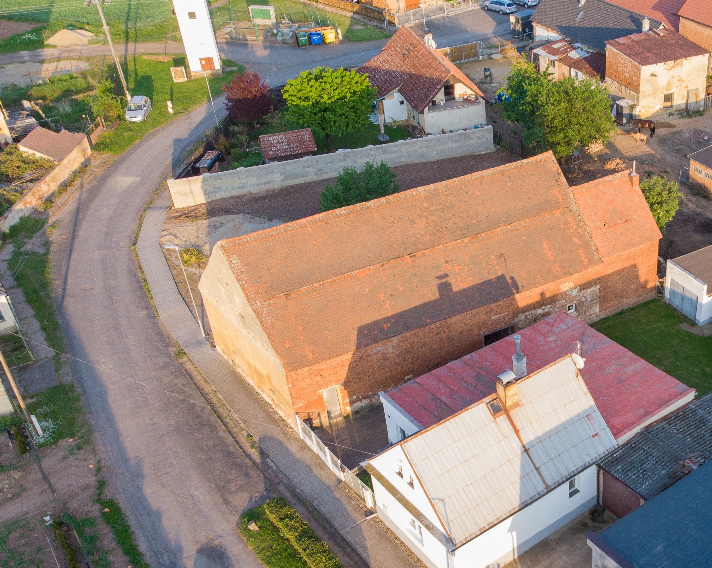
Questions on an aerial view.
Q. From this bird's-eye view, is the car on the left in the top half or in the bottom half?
top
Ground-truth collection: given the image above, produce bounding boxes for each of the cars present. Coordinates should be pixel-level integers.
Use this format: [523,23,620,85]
[483,0,518,15]
[512,0,538,8]
[121,93,153,121]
